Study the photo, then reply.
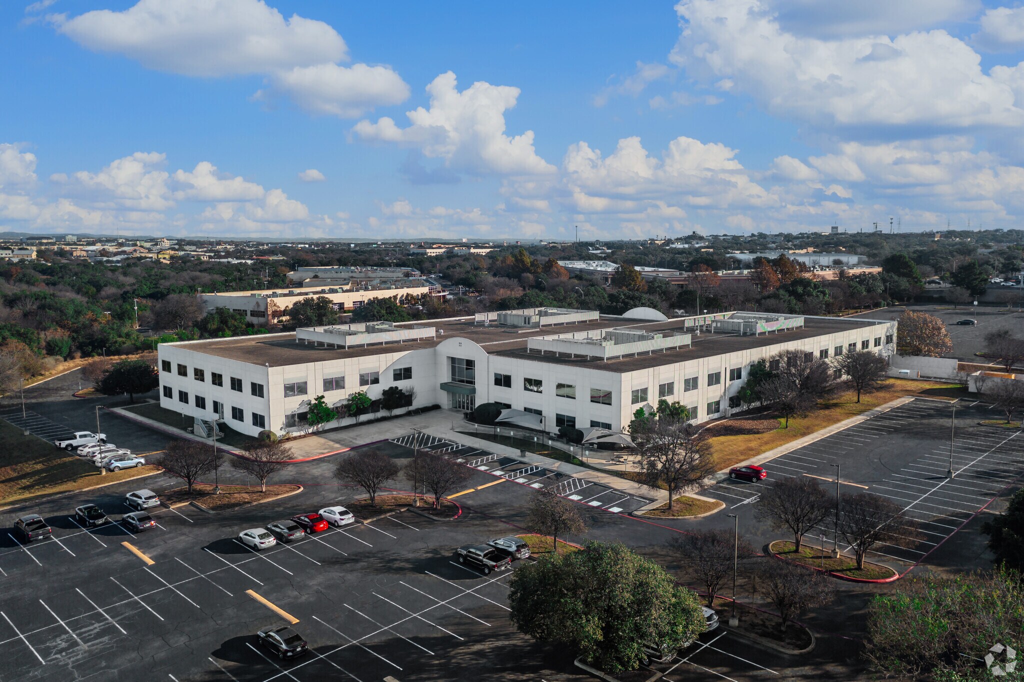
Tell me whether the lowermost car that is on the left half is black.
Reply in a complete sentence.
Yes, the lowermost car that is on the left half is indeed black.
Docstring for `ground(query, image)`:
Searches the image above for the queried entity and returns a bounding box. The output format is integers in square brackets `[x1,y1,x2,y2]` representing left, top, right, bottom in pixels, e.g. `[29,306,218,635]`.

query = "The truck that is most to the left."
[16,513,53,542]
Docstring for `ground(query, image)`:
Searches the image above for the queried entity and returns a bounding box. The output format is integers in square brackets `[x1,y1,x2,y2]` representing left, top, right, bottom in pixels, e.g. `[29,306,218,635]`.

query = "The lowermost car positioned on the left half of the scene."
[258,622,312,659]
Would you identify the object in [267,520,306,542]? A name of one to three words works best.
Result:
car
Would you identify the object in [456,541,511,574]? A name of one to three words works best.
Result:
truck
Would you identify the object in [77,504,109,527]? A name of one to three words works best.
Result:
car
